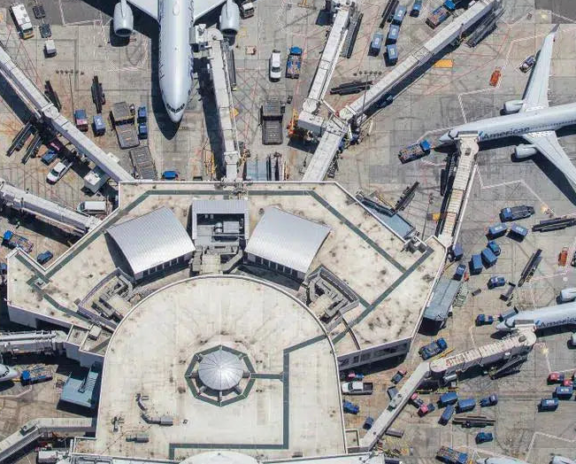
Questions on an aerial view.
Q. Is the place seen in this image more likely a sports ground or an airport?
airport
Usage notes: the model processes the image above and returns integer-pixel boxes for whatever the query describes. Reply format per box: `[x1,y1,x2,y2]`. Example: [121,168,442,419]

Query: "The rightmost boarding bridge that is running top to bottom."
[436,127,481,264]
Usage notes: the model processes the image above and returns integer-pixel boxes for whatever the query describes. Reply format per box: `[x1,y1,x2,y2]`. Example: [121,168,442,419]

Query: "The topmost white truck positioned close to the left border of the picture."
[9,0,35,42]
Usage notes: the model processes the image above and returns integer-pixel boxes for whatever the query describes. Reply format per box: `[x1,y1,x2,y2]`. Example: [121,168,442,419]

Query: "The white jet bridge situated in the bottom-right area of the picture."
[359,319,541,453]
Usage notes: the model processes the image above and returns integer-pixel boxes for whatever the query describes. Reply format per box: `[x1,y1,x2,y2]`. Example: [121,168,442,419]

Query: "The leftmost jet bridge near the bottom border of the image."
[0,417,97,464]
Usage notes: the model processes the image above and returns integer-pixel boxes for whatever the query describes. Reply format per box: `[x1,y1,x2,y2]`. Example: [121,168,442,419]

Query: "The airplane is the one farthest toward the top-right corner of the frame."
[439,21,576,187]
